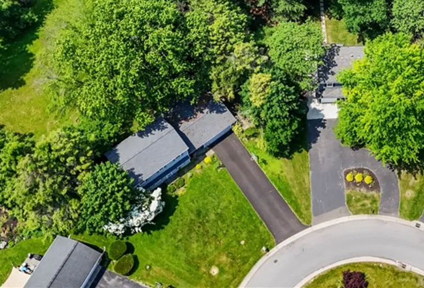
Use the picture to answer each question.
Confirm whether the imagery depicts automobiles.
No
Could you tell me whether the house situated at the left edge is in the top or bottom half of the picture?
bottom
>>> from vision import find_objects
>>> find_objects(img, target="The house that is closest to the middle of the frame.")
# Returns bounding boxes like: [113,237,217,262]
[107,101,239,200]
